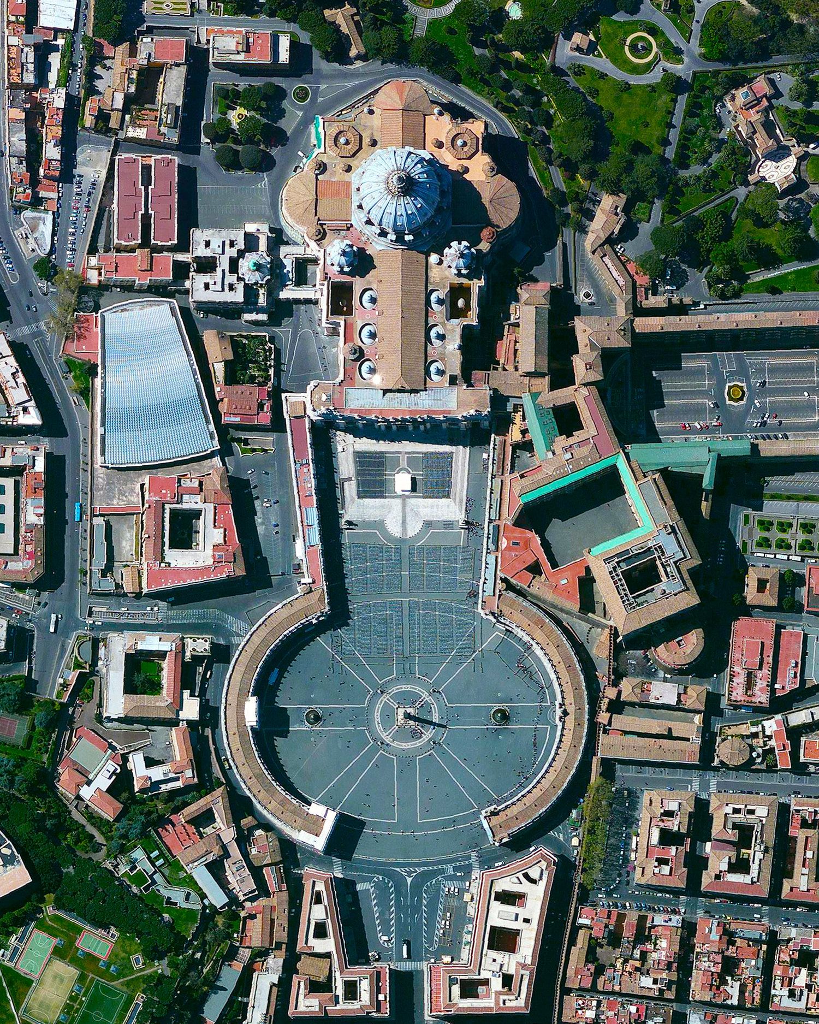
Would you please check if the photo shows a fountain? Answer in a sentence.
Yes, there's a fountain here.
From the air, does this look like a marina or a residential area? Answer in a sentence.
What you see here is a residential area.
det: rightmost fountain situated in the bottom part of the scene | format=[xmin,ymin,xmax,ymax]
[489,705,511,727]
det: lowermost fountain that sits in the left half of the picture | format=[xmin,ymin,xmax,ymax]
[302,706,324,728]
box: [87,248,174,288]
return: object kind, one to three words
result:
building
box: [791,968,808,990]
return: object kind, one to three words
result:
house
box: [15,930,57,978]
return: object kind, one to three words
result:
basketball court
